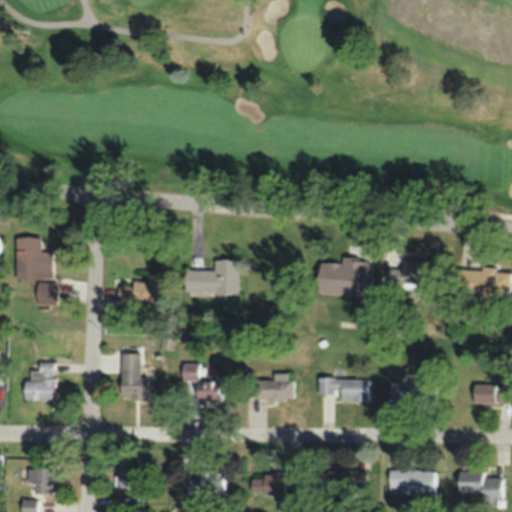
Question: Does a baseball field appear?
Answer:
No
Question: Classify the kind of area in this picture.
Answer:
golf course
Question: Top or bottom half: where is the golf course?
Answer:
top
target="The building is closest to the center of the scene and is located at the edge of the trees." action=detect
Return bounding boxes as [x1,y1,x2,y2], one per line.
[186,260,240,298]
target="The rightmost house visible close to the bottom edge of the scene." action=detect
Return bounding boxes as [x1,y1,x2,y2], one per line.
[460,467,509,510]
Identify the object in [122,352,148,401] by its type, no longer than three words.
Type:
house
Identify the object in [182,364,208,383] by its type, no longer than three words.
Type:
building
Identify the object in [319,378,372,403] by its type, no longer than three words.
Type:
house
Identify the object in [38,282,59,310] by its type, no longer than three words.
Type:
building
